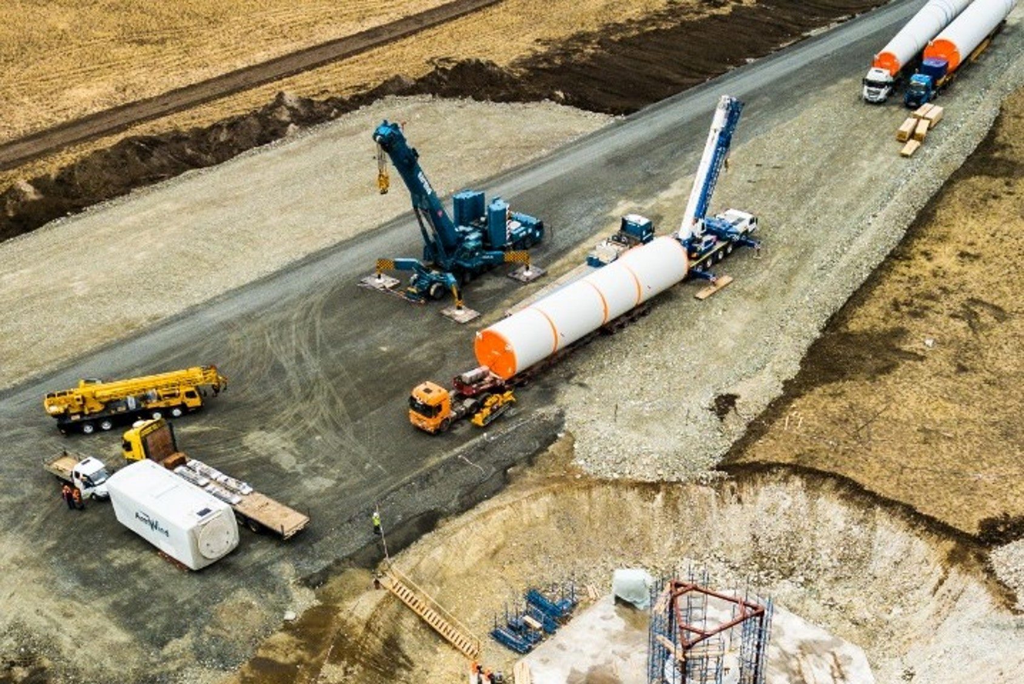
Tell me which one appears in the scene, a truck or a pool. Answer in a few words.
truck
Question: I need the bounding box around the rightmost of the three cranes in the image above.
[677,95,760,284]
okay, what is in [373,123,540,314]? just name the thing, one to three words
crane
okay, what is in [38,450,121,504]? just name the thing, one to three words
van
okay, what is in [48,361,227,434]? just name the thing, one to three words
crane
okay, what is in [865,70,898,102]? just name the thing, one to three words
truck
